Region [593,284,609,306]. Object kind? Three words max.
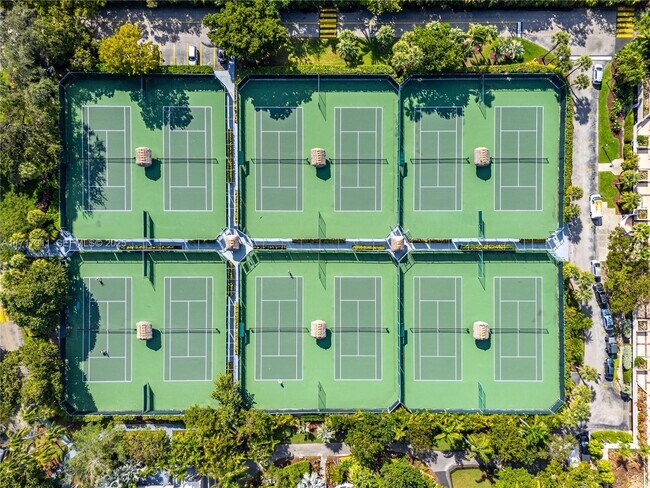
car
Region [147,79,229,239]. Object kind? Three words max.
tennis court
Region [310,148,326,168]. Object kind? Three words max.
gazebo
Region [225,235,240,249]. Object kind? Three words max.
gazebo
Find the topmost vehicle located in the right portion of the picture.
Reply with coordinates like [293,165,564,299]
[592,64,604,86]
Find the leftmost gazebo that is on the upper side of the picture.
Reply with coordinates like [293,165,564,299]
[137,148,154,168]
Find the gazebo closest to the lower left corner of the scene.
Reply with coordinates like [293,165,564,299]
[138,320,155,340]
